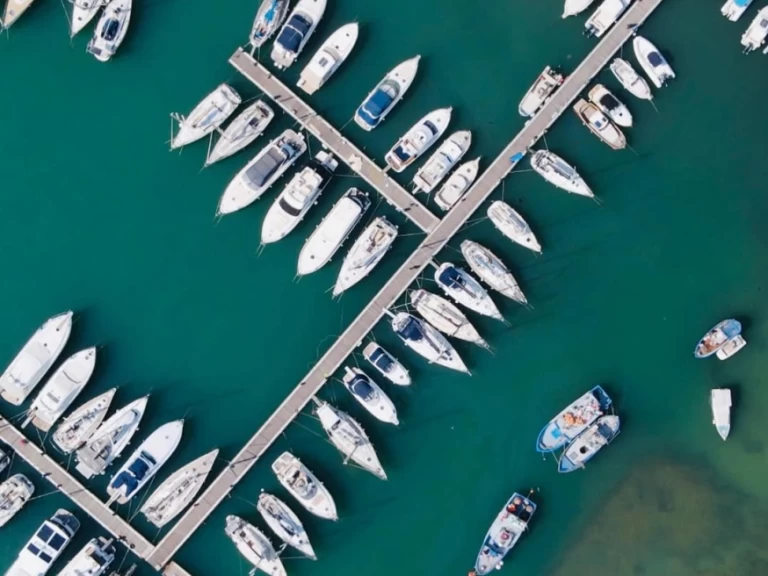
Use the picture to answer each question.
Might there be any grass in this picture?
No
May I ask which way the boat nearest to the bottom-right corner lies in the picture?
from top to bottom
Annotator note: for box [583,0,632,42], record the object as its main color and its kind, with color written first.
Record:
white boat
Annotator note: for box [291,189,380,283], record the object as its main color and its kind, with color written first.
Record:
white boat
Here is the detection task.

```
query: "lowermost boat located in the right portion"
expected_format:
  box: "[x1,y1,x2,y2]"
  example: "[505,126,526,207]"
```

[470,490,534,575]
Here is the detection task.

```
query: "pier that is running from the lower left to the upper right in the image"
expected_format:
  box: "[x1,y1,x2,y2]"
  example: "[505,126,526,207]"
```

[146,0,662,571]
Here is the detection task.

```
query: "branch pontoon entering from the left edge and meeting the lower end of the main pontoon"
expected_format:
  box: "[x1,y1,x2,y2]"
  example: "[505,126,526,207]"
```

[0,414,158,559]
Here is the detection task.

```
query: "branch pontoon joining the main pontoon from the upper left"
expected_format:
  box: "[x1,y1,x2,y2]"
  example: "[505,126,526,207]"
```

[229,47,441,235]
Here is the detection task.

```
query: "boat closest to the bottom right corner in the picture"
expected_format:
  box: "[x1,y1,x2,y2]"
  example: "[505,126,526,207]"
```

[712,389,734,440]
